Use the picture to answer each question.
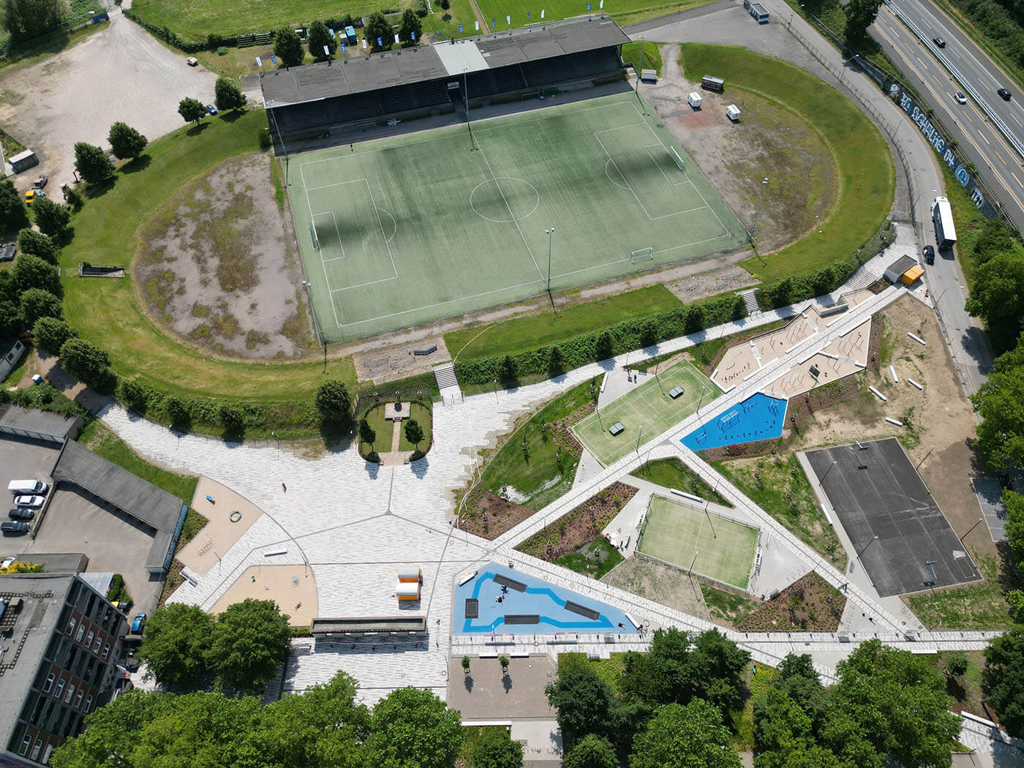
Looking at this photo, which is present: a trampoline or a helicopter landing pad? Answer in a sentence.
The one in the frame is a trampoline.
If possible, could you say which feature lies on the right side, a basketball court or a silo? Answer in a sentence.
There is a basketball court on the right side.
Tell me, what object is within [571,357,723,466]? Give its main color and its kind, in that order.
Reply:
green tennis court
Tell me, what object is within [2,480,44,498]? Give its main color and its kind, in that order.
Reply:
white vehicle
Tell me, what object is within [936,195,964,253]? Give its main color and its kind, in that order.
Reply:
white truck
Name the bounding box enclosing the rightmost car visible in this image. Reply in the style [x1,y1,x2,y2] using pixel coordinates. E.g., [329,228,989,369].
[998,88,1015,100]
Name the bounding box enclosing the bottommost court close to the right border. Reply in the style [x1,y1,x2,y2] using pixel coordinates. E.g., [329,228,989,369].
[796,437,986,598]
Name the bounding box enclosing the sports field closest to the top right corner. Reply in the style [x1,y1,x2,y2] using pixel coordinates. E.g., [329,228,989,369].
[477,0,707,32]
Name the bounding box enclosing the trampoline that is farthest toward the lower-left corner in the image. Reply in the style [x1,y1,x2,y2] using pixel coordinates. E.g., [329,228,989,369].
[465,598,479,619]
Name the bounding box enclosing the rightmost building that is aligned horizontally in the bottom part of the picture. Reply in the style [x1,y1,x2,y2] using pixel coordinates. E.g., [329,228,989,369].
[311,616,426,637]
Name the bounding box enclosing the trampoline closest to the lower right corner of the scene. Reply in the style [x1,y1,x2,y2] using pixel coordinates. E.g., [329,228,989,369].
[564,600,600,621]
